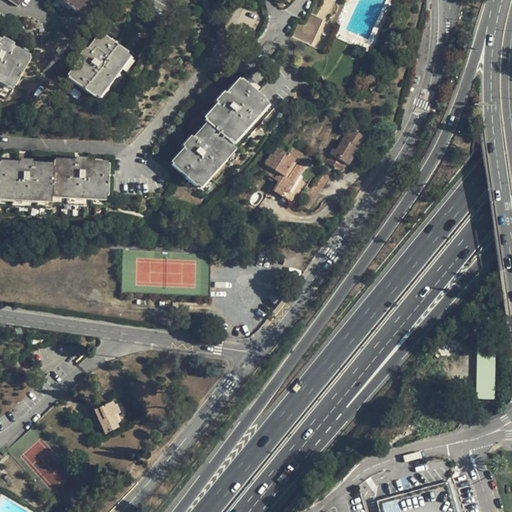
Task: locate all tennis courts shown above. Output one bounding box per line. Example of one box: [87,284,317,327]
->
[121,248,210,297]
[8,426,92,510]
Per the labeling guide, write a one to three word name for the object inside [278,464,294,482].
vehicle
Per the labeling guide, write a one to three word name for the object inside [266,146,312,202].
house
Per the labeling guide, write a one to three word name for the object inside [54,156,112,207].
building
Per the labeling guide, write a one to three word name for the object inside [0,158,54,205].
building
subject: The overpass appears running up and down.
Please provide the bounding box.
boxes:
[474,0,512,365]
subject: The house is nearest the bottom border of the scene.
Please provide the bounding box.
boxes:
[94,401,122,434]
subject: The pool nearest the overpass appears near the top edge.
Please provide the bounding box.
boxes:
[336,0,386,48]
